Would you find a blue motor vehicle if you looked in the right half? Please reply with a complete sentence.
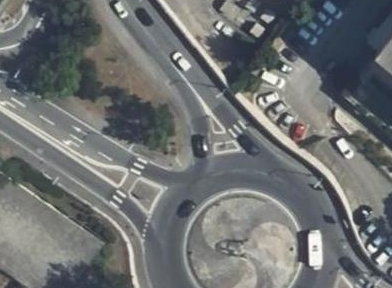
Yes, you'll find a blue motor vehicle in the right half.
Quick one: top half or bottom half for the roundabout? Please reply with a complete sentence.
You can find the roundabout in the bottom half.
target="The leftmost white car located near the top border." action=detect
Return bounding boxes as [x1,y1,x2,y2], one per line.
[112,0,128,19]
